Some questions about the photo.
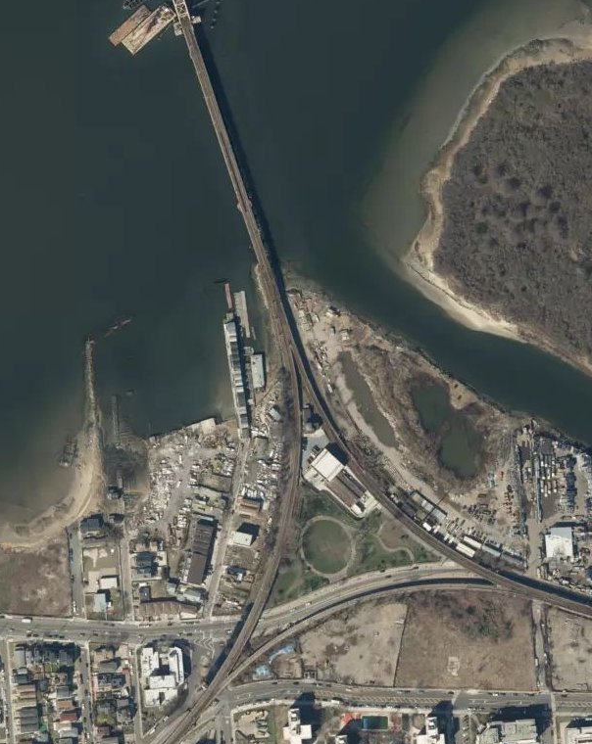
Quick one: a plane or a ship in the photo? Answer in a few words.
ship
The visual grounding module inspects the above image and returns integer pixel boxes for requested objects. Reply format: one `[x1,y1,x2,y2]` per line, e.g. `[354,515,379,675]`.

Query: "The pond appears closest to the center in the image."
[340,351,398,448]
